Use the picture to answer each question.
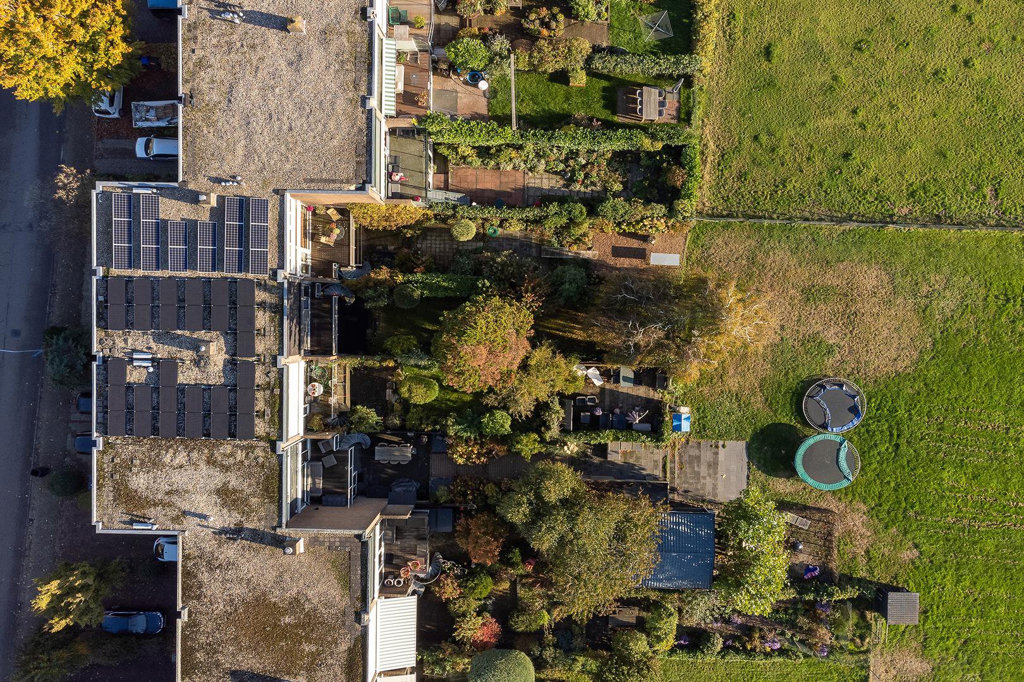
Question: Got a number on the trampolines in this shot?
2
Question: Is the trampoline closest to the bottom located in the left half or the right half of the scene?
right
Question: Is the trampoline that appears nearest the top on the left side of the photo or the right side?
right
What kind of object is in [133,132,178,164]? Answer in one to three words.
car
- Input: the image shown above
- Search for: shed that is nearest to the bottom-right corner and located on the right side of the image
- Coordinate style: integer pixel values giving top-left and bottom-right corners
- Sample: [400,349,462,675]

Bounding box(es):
[877,586,918,625]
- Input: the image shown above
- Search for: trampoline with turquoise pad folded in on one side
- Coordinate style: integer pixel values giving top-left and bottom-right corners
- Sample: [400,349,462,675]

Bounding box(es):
[790,428,860,494]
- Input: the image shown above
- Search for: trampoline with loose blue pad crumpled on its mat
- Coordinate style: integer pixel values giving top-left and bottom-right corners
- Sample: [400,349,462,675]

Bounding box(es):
[802,374,866,435]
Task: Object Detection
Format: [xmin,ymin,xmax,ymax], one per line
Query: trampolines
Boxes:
[790,428,860,494]
[802,374,866,435]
